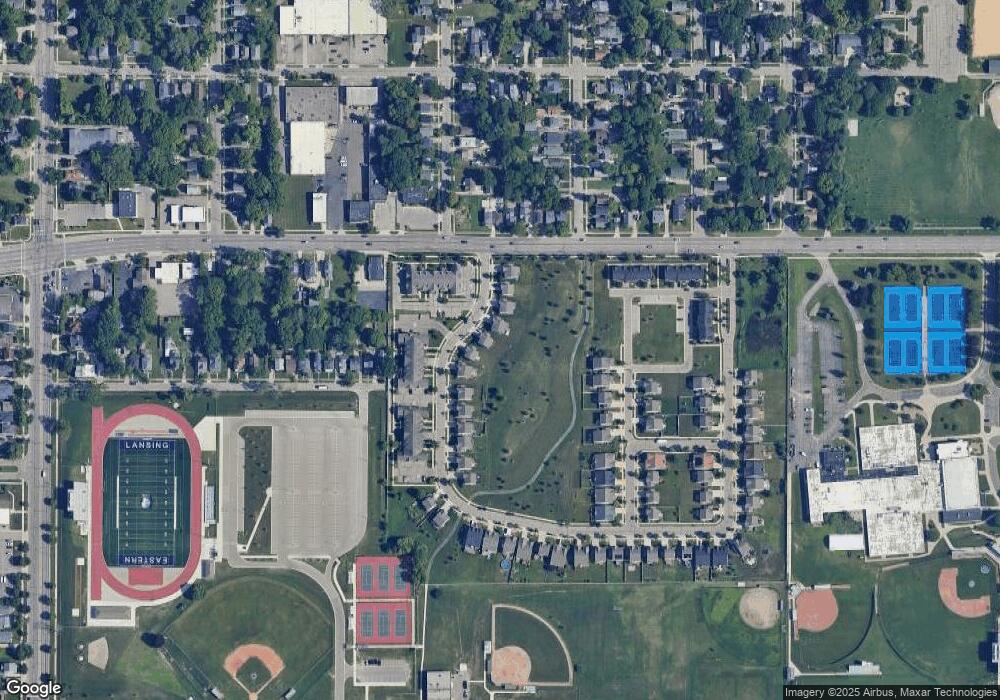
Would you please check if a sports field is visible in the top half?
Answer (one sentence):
No, there's no sports field to be seen in the top half.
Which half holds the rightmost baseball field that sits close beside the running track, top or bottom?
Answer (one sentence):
The rightmost baseball field that sits close beside the running track sits in the bottom half of the picture.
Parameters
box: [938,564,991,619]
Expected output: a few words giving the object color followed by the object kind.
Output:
pink baseball field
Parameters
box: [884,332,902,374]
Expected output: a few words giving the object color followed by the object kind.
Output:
blue tennis court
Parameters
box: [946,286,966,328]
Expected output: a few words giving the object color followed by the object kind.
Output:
blue tennis court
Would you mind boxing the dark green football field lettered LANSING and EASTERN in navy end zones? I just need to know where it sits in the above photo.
[104,437,190,568]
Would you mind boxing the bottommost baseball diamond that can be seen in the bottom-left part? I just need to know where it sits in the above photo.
[166,576,333,700]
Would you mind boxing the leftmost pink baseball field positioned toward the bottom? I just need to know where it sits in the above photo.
[794,588,839,633]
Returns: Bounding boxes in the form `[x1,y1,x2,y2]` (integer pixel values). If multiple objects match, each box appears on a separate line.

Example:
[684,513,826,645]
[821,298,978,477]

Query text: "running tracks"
[92,403,202,600]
